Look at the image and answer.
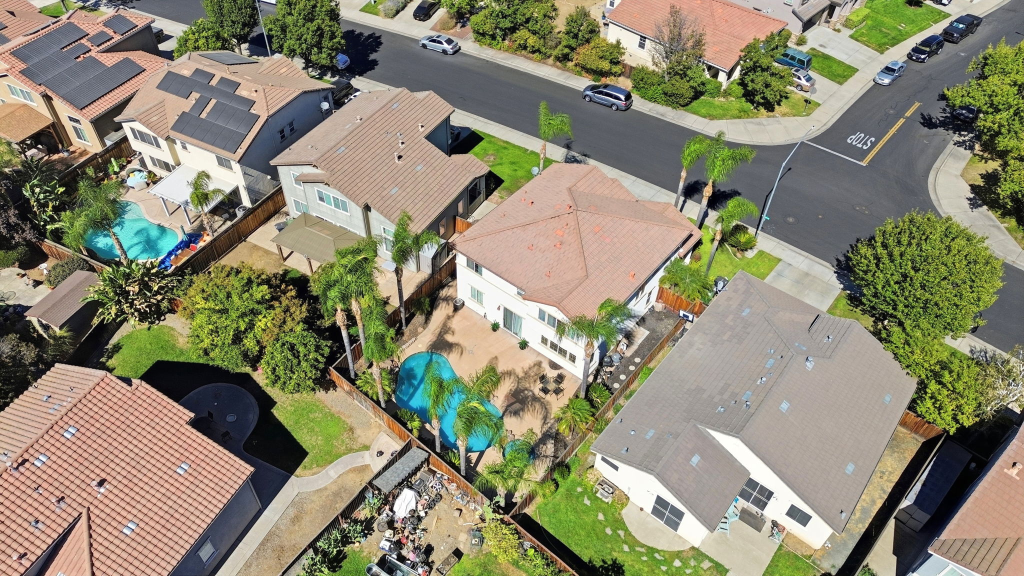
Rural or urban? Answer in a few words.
urban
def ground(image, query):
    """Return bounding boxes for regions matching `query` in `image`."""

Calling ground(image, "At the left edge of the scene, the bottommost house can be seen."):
[0,360,266,576]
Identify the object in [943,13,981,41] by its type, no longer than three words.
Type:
truck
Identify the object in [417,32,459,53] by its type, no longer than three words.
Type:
car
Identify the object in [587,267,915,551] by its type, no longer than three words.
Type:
house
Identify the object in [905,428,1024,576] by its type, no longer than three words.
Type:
house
